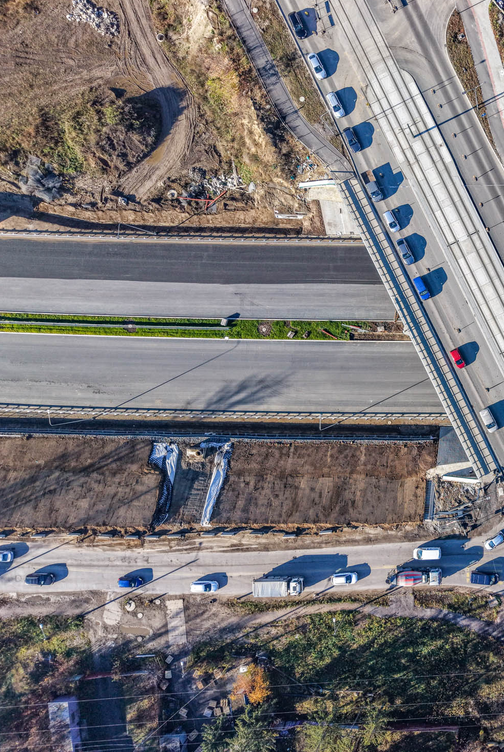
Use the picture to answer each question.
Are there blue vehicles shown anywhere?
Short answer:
Yes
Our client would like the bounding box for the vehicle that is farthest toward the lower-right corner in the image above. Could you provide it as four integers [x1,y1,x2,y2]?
[469,569,499,586]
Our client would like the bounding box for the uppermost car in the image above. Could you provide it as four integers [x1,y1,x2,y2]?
[287,10,309,41]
